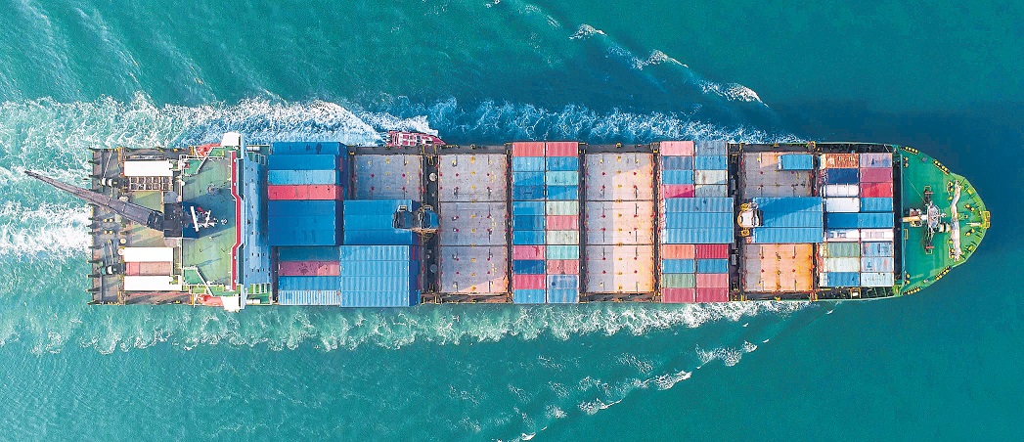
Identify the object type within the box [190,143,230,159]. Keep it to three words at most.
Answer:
boat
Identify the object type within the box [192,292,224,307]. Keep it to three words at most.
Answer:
boat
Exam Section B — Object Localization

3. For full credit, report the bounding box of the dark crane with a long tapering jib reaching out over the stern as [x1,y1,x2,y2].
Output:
[21,170,202,238]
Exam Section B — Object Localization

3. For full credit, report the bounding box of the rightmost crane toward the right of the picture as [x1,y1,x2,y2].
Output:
[726,203,763,234]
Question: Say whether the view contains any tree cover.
No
